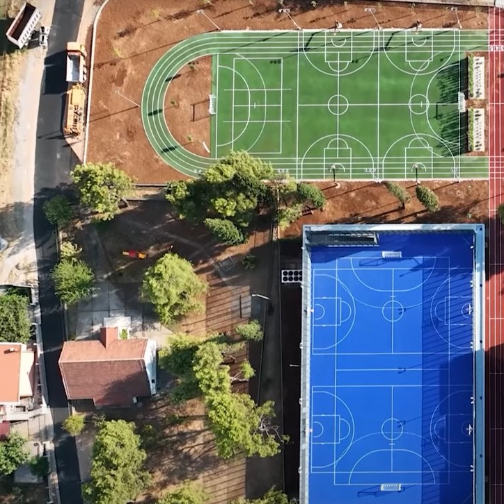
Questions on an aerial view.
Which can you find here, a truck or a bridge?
truck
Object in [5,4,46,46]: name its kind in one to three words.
truck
